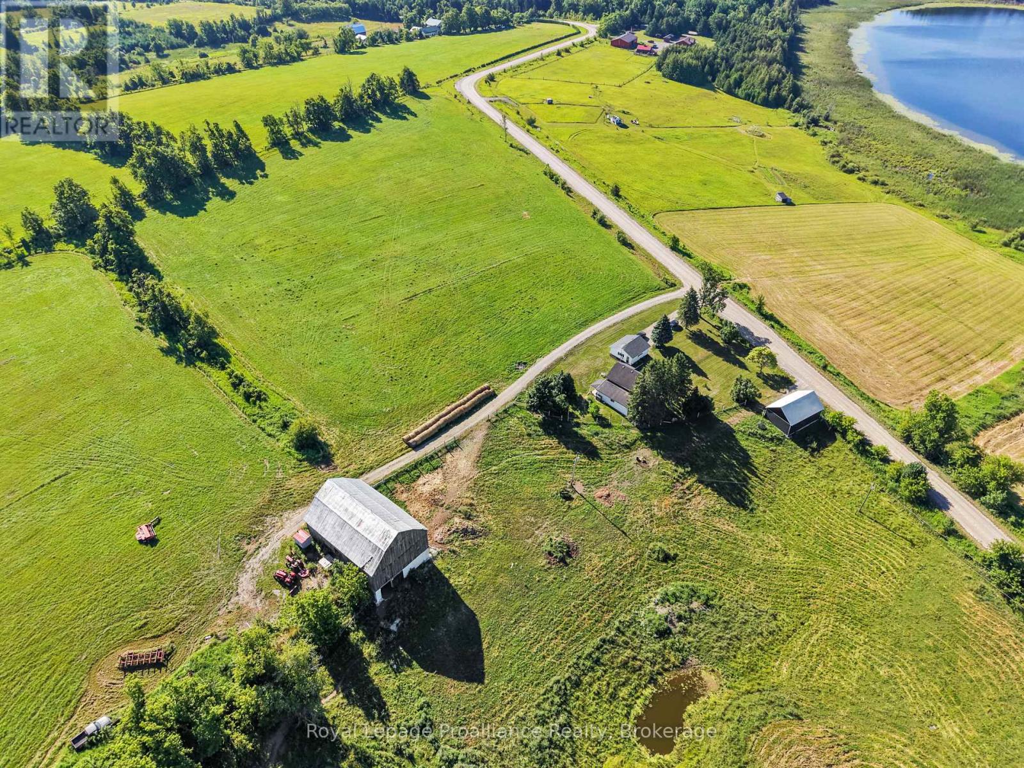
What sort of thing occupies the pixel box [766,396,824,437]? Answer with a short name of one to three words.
shed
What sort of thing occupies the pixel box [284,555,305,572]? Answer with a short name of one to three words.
work vehicle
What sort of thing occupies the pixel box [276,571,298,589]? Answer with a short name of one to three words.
work vehicle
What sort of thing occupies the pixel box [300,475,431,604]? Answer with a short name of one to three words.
barn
